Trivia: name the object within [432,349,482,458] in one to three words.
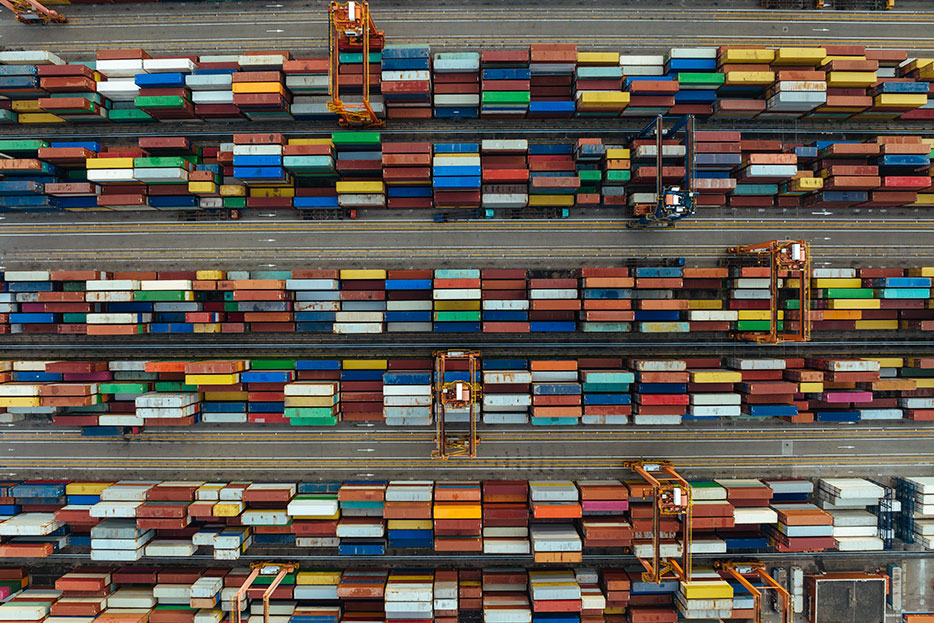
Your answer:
container crane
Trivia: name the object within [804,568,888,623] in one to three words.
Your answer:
building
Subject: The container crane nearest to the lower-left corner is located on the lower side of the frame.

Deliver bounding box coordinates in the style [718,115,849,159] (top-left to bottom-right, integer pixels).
[230,564,299,623]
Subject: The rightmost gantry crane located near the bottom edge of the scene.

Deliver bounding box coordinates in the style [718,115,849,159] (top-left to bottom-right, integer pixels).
[718,562,799,623]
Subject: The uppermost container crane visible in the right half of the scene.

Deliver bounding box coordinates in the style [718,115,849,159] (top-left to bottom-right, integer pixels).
[628,112,698,227]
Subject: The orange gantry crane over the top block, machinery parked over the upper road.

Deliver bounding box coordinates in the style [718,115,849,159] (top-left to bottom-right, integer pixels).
[326,1,386,128]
